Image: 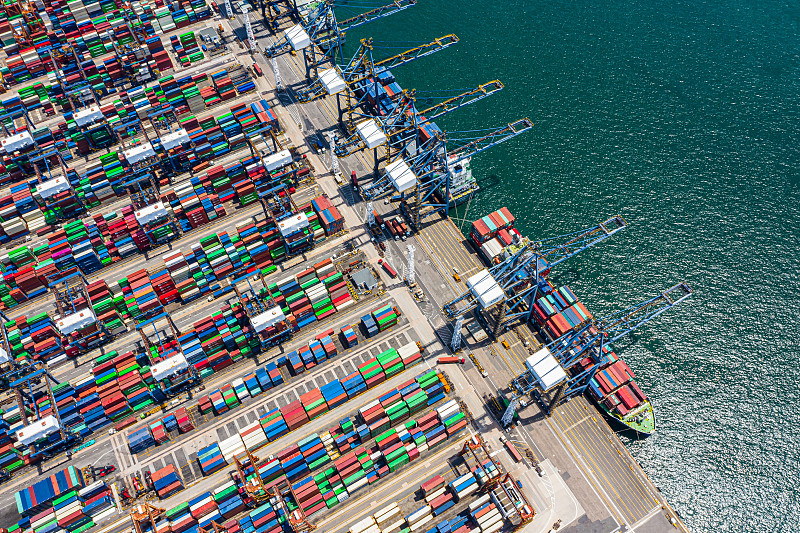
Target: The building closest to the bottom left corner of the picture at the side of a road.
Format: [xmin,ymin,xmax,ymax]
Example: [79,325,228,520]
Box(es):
[352,266,377,290]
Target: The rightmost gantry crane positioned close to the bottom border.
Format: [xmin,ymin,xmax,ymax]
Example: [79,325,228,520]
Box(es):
[491,472,537,530]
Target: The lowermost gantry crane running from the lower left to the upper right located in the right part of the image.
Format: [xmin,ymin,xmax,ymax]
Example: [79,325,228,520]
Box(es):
[503,280,696,418]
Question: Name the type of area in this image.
port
